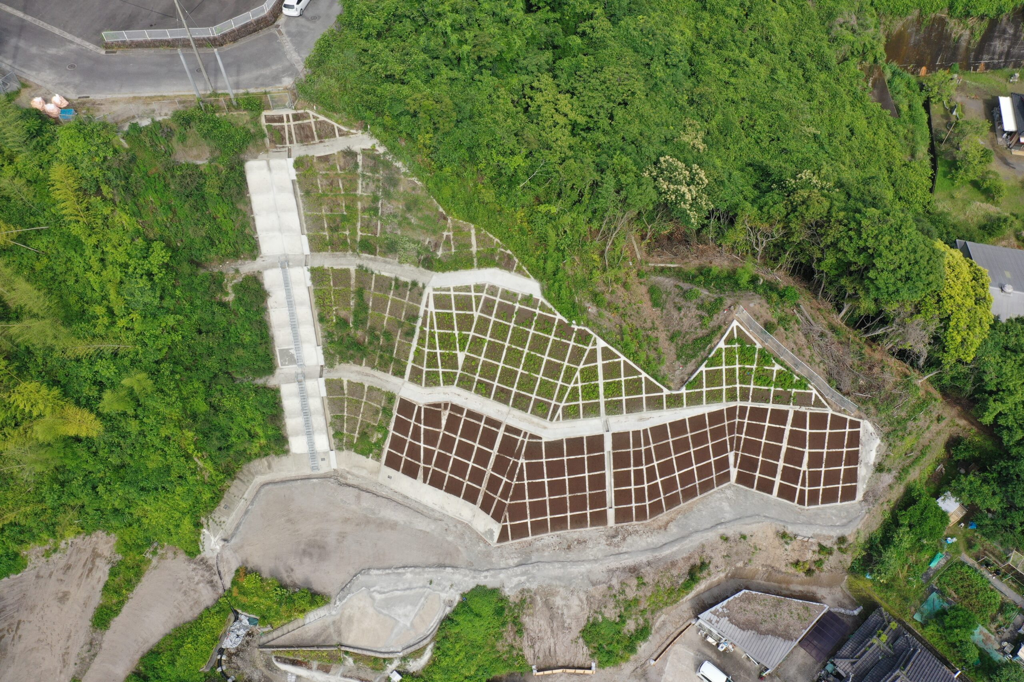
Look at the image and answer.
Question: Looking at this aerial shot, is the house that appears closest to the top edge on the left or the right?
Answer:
right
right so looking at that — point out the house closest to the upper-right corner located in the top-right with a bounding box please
[994,92,1024,158]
